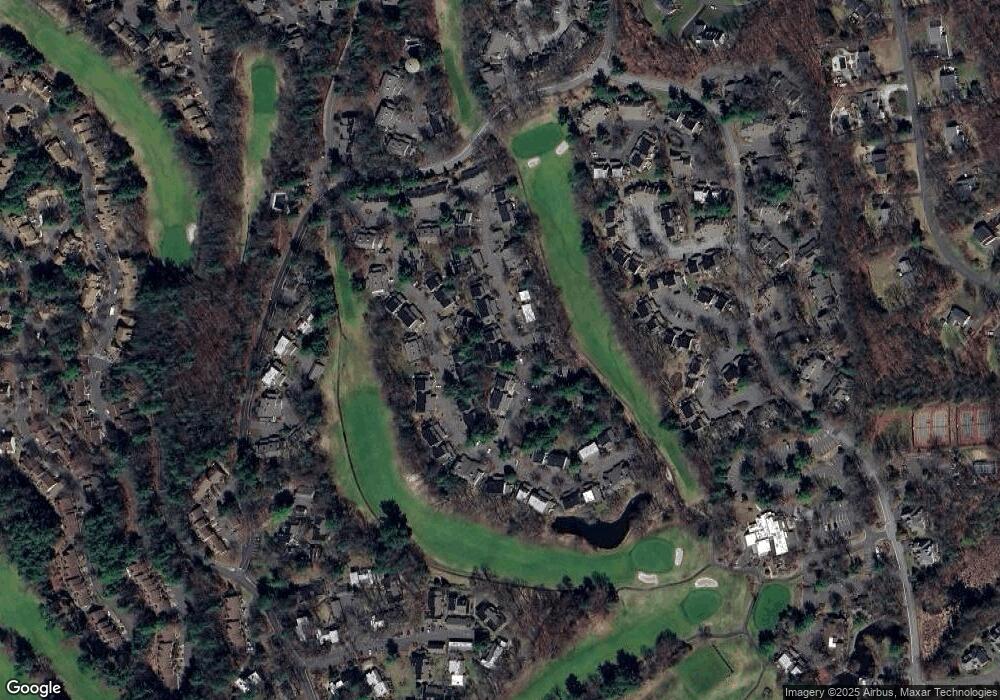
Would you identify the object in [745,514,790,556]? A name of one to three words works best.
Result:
building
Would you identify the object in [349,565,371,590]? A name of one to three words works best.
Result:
house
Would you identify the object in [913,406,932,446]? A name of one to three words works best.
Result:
tennis court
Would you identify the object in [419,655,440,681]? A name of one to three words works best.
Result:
house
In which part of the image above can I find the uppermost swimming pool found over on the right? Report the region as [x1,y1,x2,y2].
[835,54,849,70]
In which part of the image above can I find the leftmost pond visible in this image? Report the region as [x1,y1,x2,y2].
[550,491,653,551]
